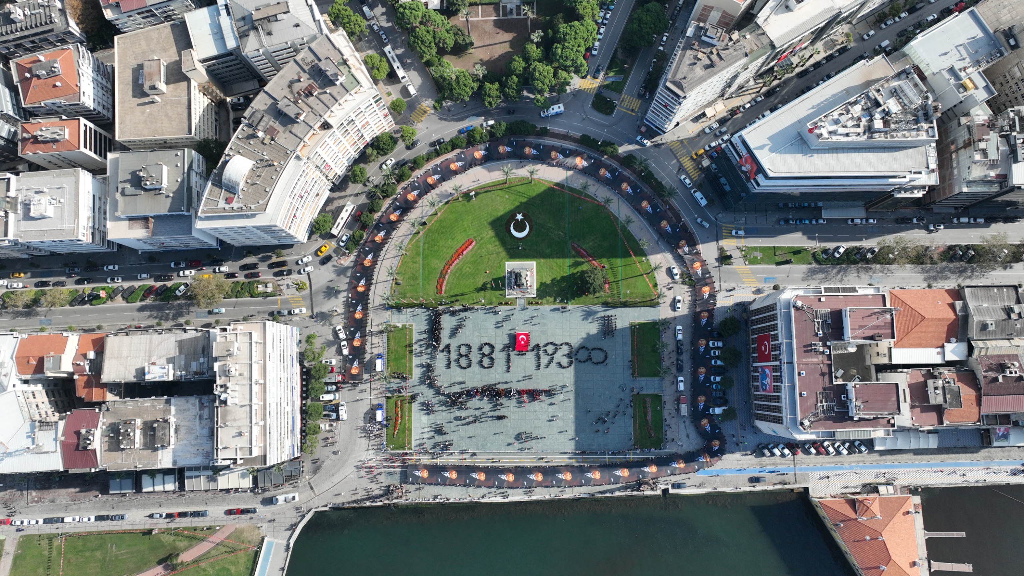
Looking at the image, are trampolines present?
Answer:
No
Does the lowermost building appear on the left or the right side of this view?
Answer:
right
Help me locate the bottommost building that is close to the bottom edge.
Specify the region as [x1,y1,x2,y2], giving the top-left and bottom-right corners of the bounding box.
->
[805,494,929,576]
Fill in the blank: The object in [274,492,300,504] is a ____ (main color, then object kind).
white vehicle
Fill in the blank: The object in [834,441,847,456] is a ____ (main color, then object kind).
white vehicle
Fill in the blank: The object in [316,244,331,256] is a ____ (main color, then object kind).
yellow vehicle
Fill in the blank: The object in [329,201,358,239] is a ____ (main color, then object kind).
white bus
